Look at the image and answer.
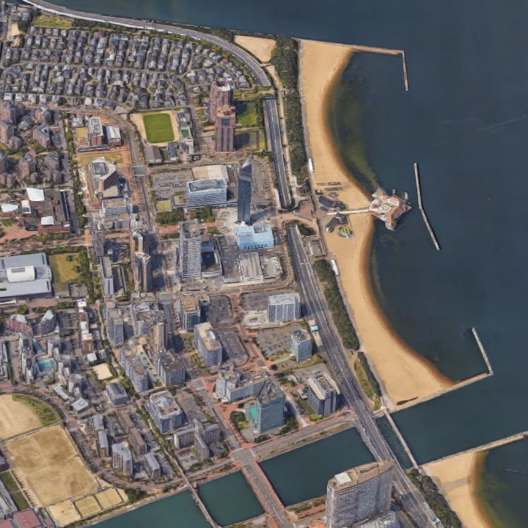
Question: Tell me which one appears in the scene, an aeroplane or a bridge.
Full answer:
Visible in the photo is a bridge.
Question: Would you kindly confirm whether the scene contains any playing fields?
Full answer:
Yes, a playing field can be made out from above.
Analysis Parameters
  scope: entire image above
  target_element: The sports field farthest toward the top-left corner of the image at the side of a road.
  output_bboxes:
[131,110,180,145]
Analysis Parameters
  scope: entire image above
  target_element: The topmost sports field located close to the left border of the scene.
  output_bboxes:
[0,394,61,438]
